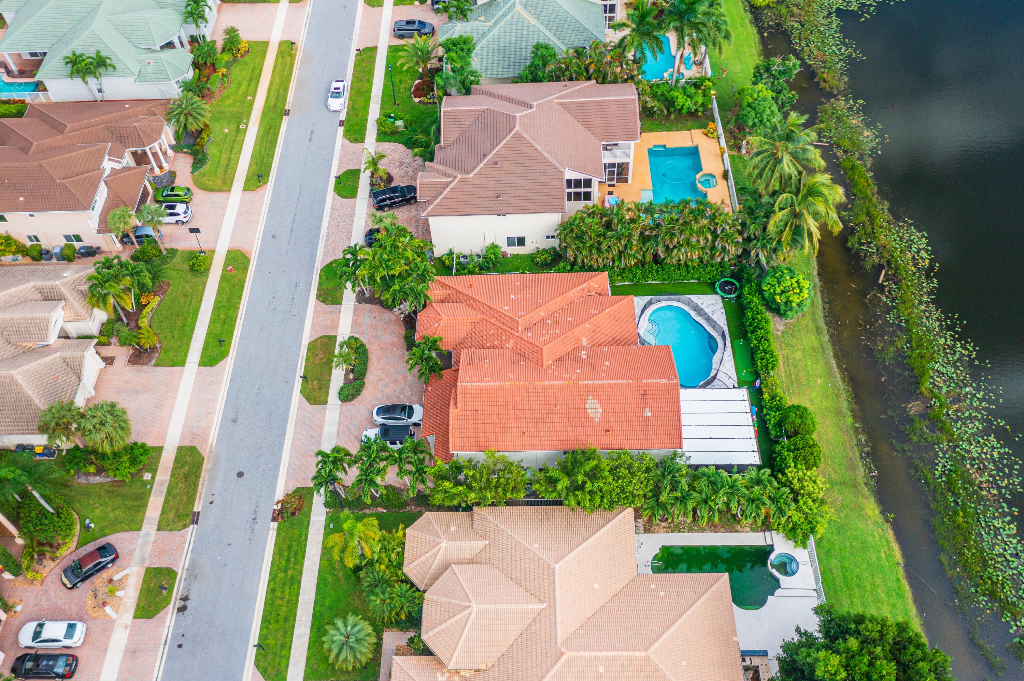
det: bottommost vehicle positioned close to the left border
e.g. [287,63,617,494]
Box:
[9,649,82,681]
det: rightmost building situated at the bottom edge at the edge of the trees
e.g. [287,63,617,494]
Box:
[391,503,745,681]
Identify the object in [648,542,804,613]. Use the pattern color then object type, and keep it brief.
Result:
green swimming pool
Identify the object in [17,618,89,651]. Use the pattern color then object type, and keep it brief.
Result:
white car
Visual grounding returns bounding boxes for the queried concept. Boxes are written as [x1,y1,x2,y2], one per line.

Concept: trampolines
[712,274,743,311]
